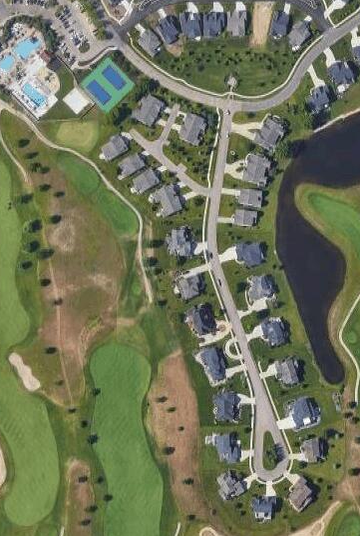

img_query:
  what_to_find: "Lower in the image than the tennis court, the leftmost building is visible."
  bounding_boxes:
[102,135,128,160]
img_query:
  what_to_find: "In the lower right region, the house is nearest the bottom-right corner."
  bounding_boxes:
[288,479,314,512]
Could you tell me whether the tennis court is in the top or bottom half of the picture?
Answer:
top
